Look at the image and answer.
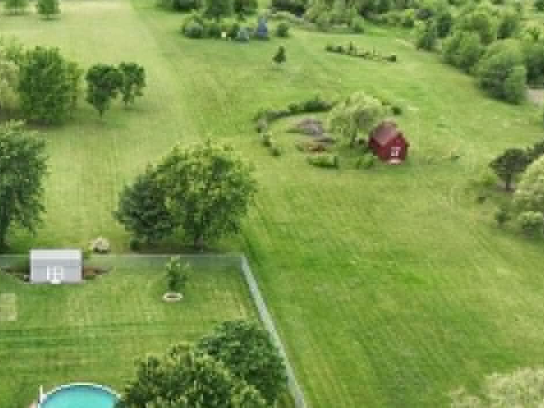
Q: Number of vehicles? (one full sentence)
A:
There are no vehicles in this view.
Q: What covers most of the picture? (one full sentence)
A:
The bulk of the photo consists of grass.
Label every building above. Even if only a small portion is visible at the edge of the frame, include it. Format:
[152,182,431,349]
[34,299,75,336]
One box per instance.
[30,248,84,287]
[370,123,412,163]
